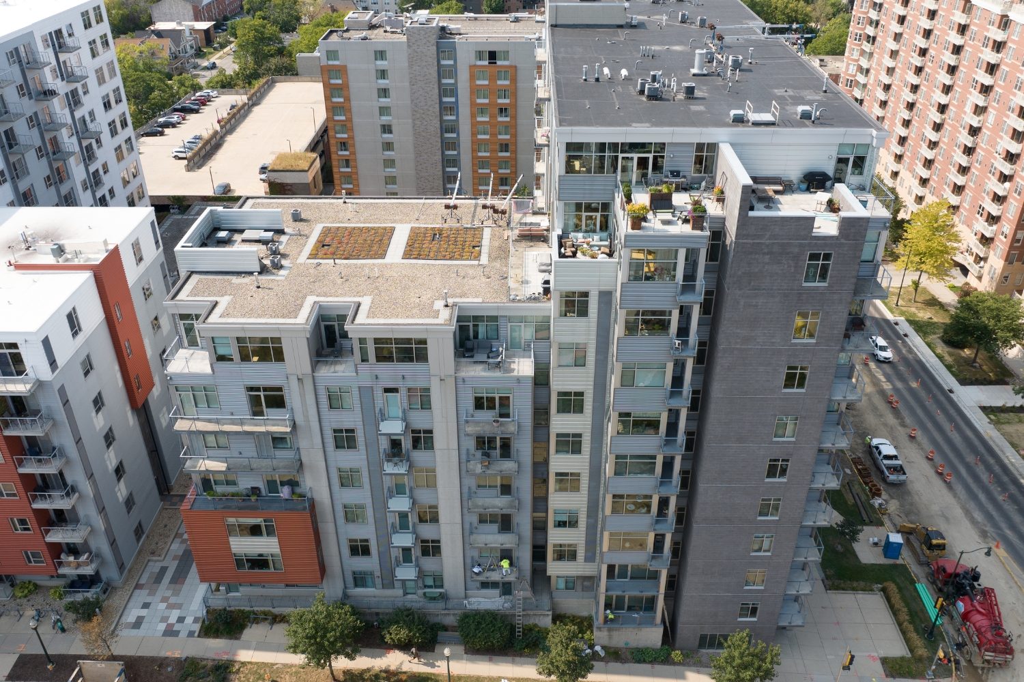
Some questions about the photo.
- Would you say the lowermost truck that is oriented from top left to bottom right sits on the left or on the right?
right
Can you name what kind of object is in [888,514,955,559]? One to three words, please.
work vehicle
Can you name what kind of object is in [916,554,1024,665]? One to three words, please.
truck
